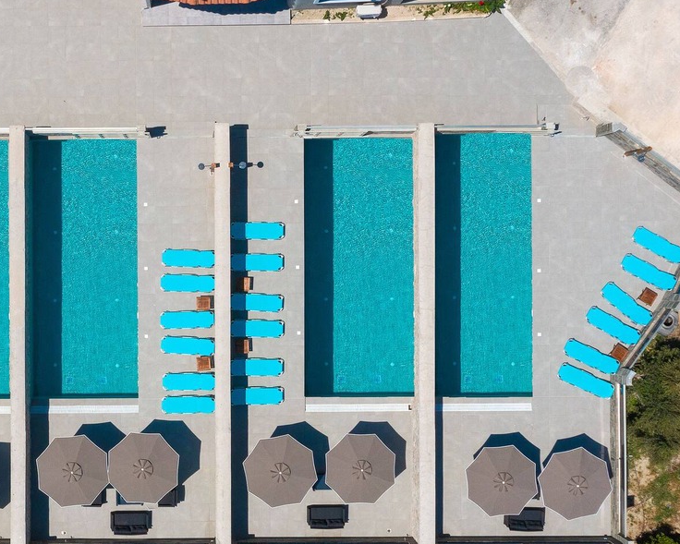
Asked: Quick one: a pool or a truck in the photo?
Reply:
pool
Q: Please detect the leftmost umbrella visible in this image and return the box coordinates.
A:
[37,436,108,507]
